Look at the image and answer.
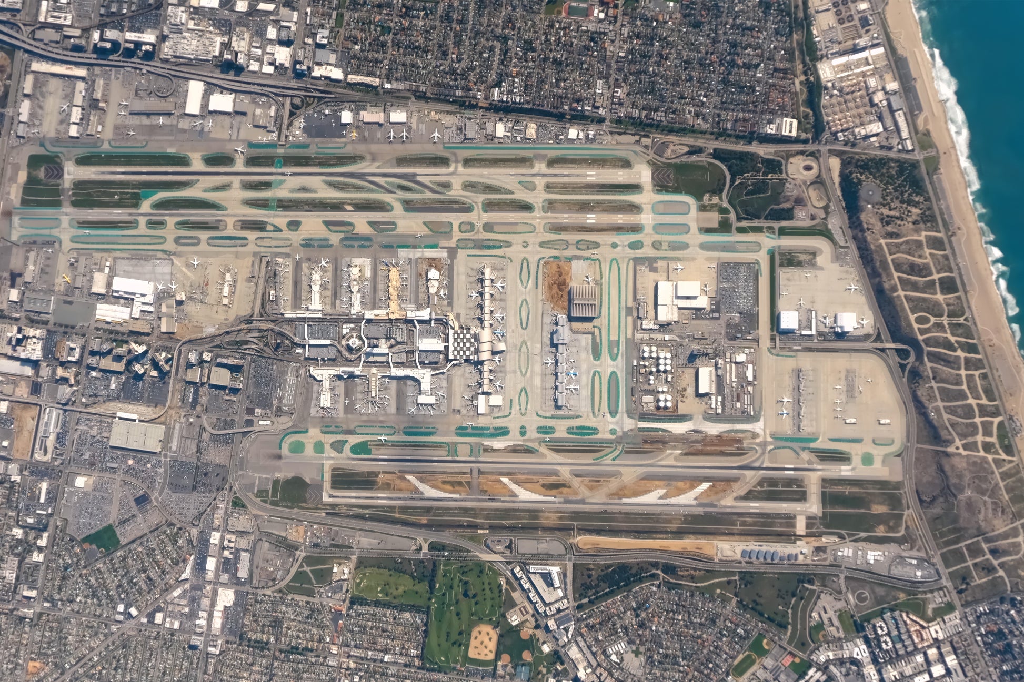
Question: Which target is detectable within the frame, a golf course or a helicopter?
golf course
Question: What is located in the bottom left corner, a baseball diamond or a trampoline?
baseball diamond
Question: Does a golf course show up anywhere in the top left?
No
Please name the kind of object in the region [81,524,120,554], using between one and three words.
baseball field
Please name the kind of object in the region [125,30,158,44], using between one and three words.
building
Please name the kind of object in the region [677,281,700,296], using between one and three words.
hangar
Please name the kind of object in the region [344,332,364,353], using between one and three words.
building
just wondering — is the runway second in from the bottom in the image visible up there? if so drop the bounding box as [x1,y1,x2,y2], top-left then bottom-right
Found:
[281,454,889,475]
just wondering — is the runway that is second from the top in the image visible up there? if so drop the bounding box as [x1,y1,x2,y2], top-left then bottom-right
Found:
[13,210,697,223]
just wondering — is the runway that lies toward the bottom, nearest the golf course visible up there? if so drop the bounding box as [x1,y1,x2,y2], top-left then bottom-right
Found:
[323,494,817,515]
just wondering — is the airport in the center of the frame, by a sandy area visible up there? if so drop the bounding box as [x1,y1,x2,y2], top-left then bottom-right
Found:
[10,68,906,534]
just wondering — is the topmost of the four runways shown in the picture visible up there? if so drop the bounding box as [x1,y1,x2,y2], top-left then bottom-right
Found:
[64,167,651,181]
